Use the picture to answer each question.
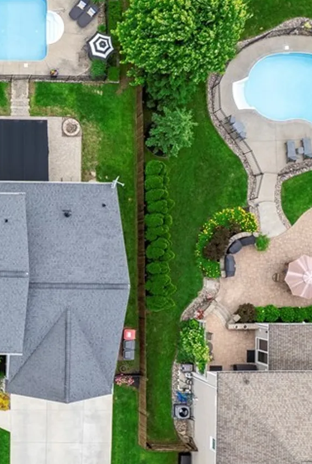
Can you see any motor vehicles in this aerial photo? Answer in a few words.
No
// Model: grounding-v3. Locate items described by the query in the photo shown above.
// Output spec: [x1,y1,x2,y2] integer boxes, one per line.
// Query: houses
[192,322,312,464]
[0,177,131,403]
